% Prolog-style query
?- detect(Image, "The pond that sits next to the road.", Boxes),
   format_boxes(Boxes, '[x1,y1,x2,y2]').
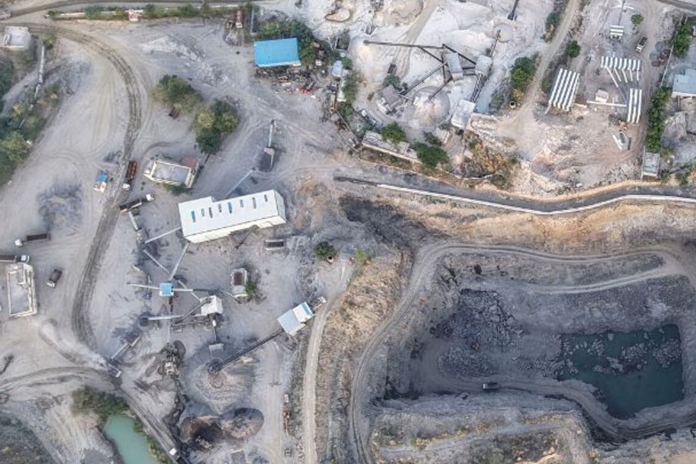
[103,414,155,464]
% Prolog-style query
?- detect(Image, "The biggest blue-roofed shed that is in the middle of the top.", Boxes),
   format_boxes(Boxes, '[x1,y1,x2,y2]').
[255,38,304,73]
